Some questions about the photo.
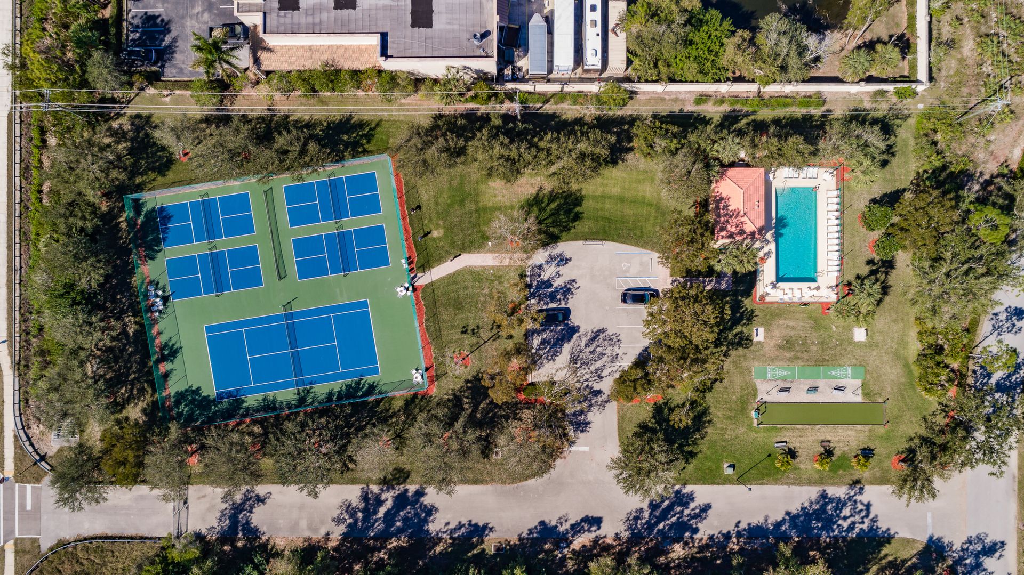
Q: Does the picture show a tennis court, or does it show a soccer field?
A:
tennis court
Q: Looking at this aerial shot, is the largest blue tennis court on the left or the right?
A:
left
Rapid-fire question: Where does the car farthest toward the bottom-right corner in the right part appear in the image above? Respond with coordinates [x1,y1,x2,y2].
[622,288,656,304]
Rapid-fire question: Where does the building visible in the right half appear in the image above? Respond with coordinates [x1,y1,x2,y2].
[712,167,767,240]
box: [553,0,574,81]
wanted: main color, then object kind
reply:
white trailer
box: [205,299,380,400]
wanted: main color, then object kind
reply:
blue tennis court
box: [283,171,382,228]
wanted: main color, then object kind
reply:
blue sports court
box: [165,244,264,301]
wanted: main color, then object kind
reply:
blue sports court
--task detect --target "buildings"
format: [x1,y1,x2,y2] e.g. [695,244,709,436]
[712,167,767,240]
[234,0,508,77]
